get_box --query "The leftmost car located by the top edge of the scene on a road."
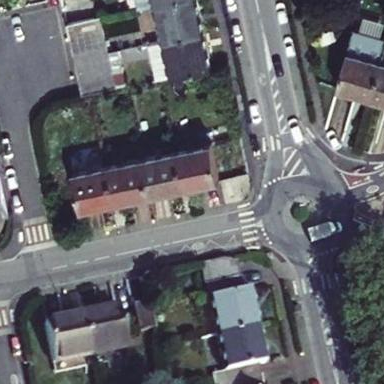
[12,16,24,41]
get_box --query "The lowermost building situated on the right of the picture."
[220,320,270,367]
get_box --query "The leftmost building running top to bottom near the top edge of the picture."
[66,18,114,98]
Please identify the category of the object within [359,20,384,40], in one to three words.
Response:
shed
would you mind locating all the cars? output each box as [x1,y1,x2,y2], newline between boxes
[283,36,296,58]
[276,2,288,25]
[48,0,58,9]
[325,130,341,151]
[232,21,244,42]
[12,16,24,41]
[244,271,263,281]
[6,168,18,190]
[118,286,130,310]
[2,138,13,160]
[290,119,302,144]
[250,134,262,154]
[248,102,260,124]
[272,54,284,77]
[12,192,24,214]
[10,335,22,356]
[354,164,375,175]
[227,0,238,12]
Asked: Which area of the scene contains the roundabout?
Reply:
right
